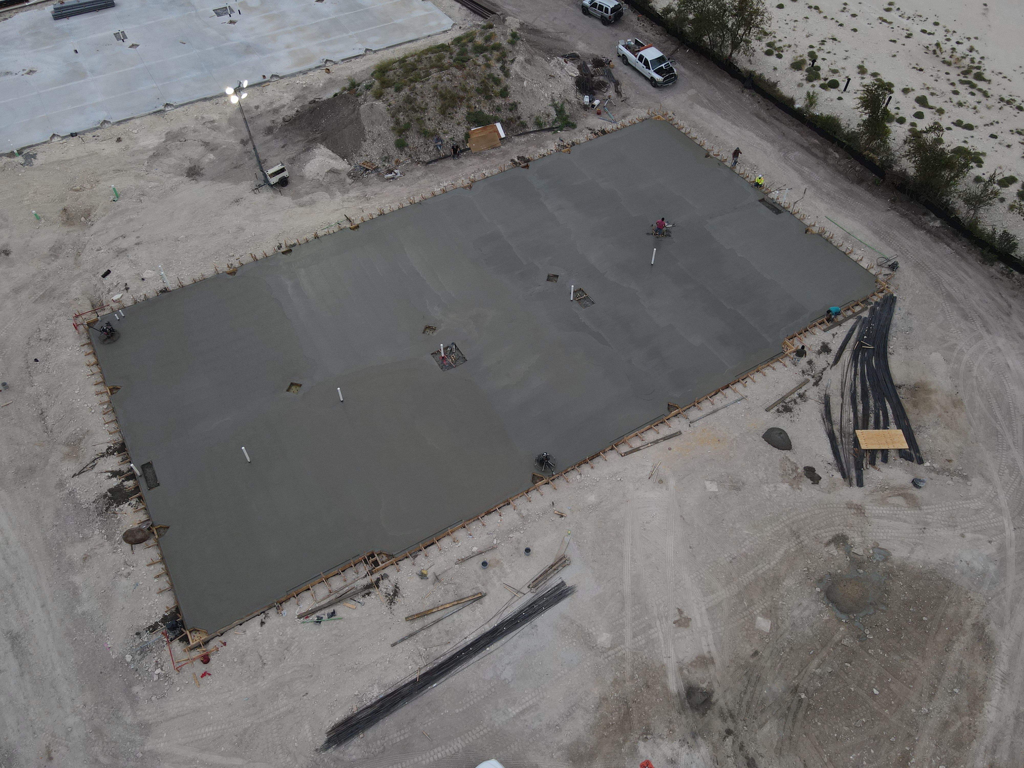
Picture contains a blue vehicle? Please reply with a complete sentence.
No, the scene contains no blue vehicle.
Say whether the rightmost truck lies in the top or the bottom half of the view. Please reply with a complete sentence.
You can find the rightmost truck in the top half.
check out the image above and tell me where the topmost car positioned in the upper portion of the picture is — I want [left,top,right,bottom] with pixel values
[580,0,625,26]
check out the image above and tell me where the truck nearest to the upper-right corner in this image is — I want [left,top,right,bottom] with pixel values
[616,39,680,88]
